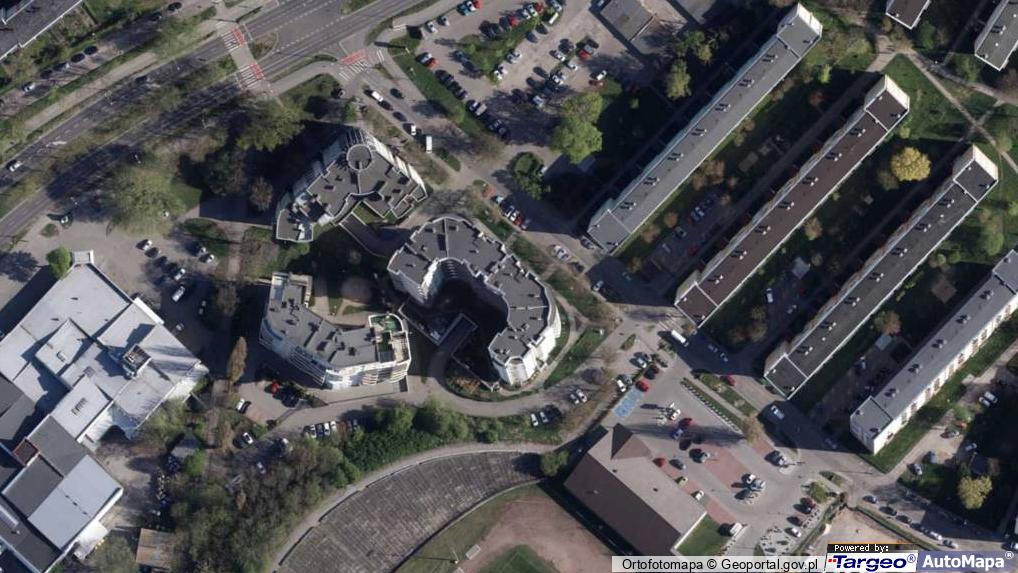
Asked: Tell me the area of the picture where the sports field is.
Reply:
bottom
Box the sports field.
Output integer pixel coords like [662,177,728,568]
[460,495,638,573]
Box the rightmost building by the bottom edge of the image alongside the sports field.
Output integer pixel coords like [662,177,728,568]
[564,424,707,573]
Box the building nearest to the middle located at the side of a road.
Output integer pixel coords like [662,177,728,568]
[388,217,557,378]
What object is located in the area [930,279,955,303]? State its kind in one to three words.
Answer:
shed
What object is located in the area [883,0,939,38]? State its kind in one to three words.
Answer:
building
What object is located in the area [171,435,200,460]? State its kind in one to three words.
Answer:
shed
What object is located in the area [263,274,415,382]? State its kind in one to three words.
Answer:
building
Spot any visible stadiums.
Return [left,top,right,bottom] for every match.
[271,450,541,573]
